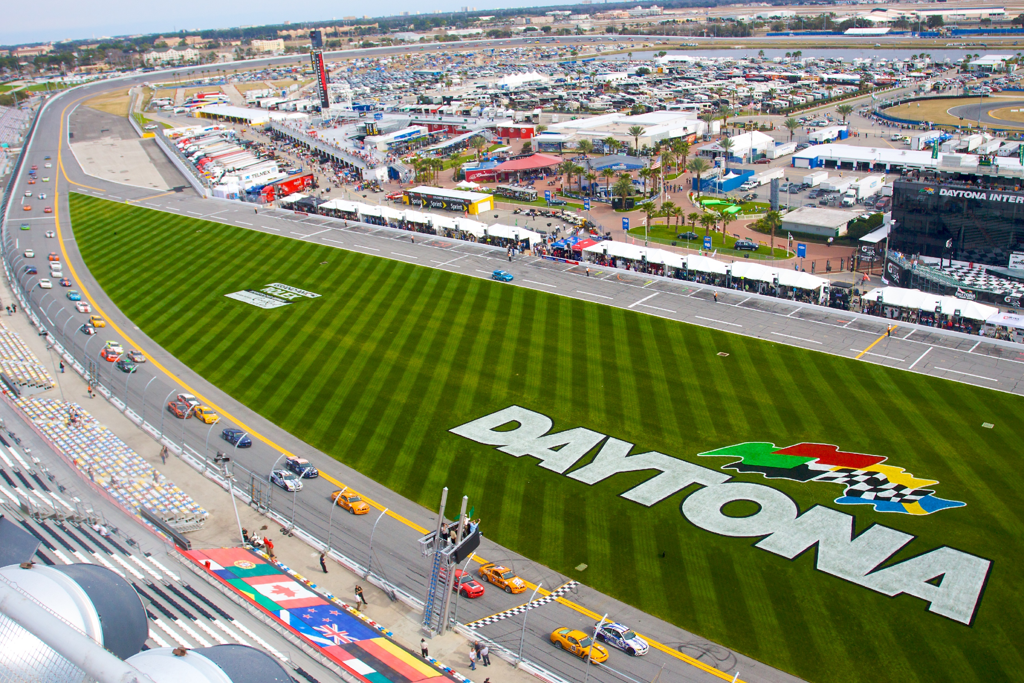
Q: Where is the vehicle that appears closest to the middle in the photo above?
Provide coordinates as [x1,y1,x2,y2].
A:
[491,267,513,279]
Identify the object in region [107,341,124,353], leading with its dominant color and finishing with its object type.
white vehicle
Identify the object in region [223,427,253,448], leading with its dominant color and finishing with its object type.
blue car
